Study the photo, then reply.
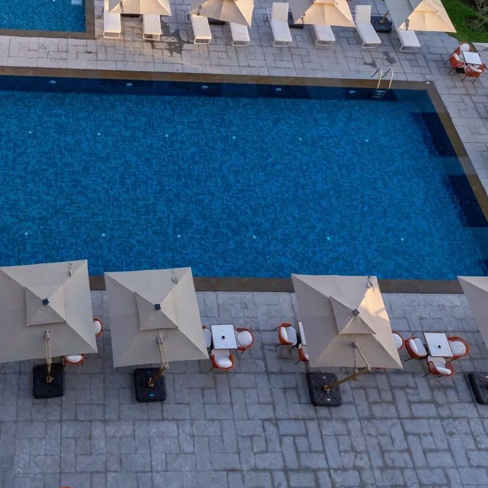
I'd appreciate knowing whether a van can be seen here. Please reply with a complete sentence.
No, there isn't any van down there.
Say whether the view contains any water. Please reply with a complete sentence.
Yes, the picture does contain water.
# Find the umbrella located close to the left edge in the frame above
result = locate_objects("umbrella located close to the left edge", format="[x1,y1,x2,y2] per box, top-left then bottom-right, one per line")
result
[0,263,99,398]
